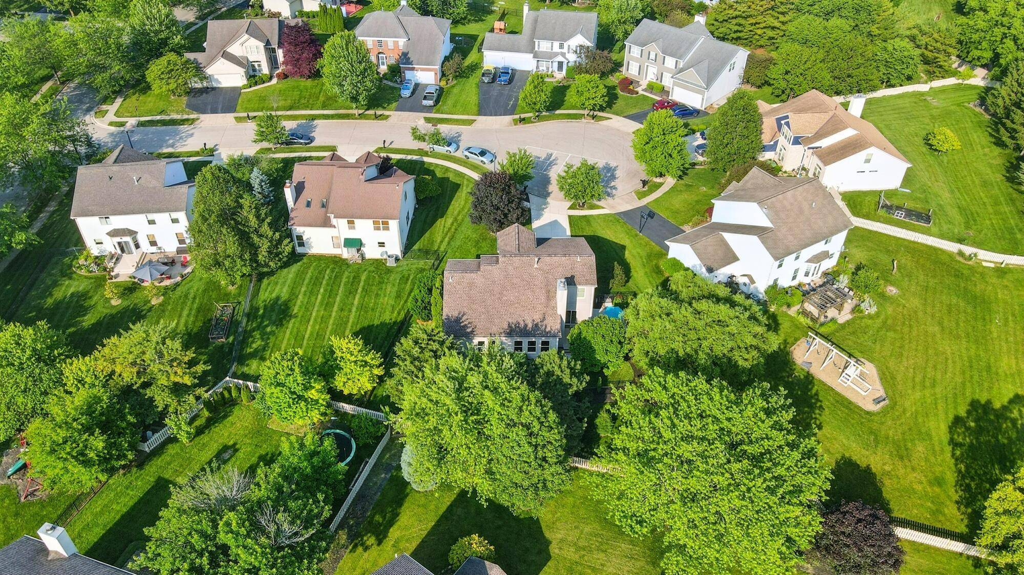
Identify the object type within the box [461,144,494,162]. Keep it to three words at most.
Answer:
car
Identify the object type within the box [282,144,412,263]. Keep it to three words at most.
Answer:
house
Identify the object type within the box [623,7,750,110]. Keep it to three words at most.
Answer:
house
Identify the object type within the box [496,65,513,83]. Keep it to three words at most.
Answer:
vehicle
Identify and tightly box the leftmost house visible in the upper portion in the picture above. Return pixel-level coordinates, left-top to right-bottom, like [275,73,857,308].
[70,142,196,253]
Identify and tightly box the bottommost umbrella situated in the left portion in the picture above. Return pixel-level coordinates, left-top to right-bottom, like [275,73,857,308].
[133,261,169,285]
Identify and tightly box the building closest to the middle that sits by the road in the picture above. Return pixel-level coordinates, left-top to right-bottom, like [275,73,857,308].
[441,222,597,354]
